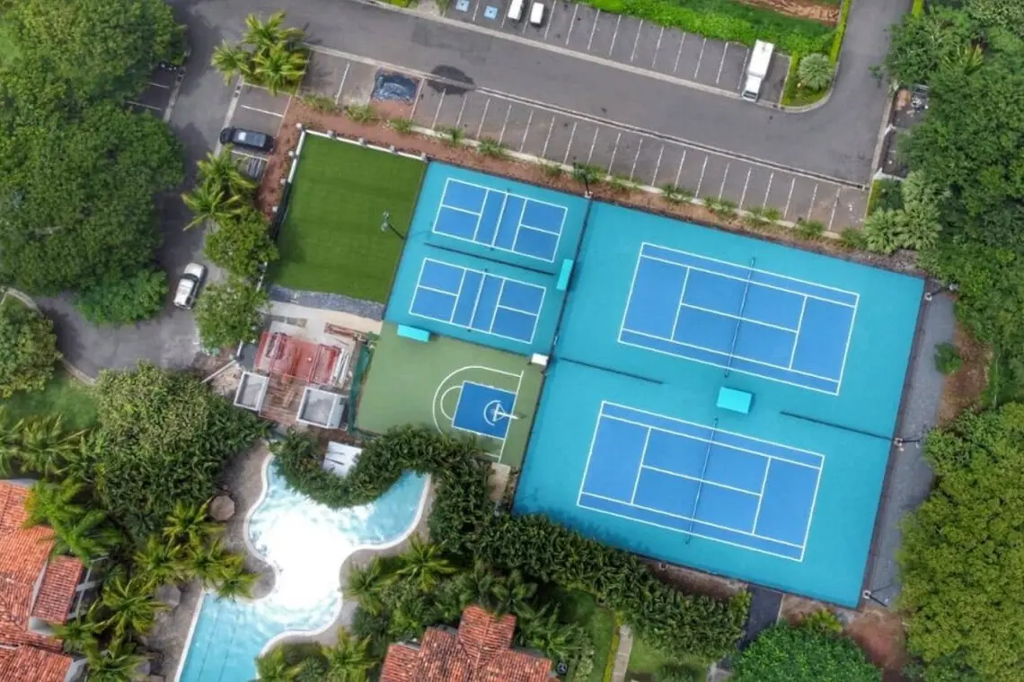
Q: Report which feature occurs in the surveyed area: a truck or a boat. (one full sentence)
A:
I can see a truck in this picture.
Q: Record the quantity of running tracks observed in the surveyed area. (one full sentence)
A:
There are no running tracks in the image.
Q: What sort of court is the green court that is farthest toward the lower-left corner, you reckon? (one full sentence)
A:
The green court that is farthest toward the lower-left corner is a basketball court.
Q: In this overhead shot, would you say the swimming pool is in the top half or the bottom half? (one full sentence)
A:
You can find the swimming pool in the bottom half.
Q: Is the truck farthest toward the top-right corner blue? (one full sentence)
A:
No, the truck farthest toward the top-right corner is actually white.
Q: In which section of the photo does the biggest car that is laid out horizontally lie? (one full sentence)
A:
The biggest car that is laid out horizontally sits in the top left section of the image.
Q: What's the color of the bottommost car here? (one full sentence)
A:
The bottommost car looks white in the image.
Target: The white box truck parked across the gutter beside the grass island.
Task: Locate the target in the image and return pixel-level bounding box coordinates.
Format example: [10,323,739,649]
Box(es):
[742,34,778,100]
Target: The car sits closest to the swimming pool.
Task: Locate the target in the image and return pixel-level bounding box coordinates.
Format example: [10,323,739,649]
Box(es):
[173,263,206,310]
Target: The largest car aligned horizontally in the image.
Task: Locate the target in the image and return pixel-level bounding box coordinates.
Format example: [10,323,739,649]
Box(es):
[220,125,277,154]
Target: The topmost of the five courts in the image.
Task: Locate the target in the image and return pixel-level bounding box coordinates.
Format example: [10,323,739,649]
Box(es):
[406,161,589,276]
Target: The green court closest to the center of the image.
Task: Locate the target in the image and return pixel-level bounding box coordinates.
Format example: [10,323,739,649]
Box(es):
[356,321,551,470]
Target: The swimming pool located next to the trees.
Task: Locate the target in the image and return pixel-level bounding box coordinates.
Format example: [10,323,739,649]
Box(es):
[173,454,433,682]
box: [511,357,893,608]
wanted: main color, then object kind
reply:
blue tennis court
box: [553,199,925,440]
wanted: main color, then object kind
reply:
blue tennis court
